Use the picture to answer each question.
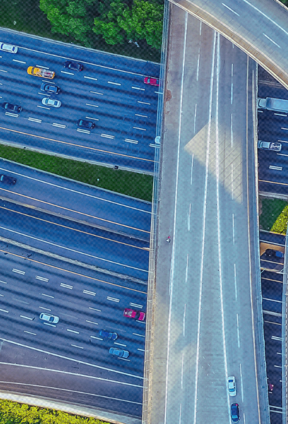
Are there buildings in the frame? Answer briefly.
No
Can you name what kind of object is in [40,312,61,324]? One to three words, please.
vehicle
